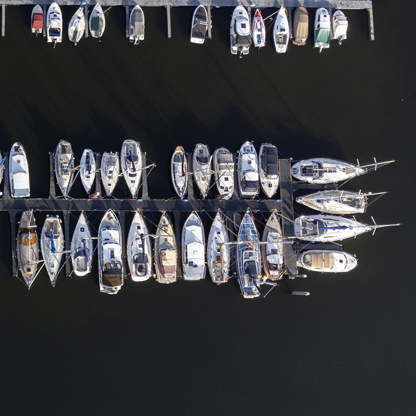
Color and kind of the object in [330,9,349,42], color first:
white boat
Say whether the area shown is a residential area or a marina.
marina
